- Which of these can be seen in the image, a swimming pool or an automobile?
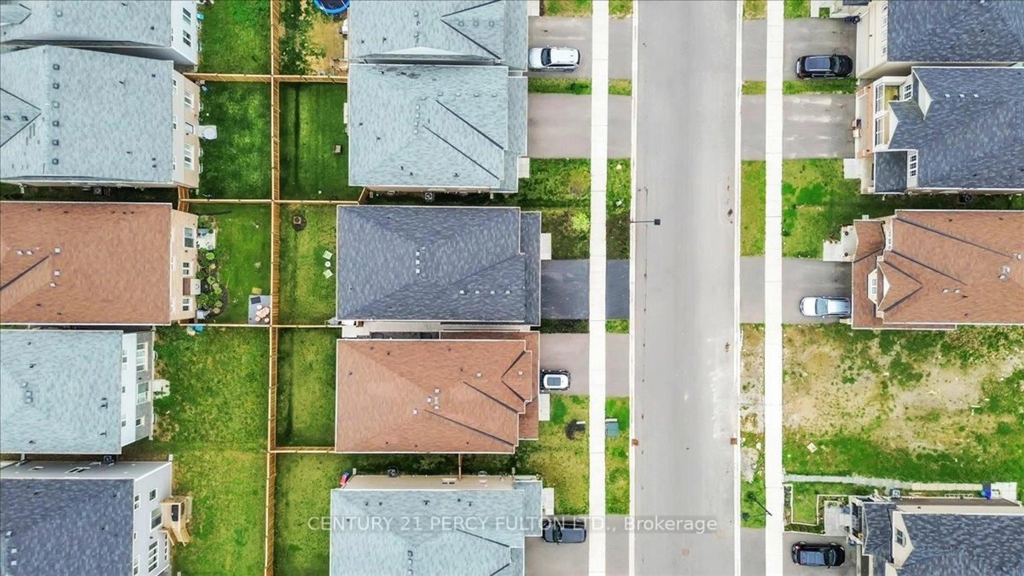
automobile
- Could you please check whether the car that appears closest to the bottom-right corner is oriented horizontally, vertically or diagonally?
horizontally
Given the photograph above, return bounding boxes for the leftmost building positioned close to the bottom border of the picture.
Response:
[0,463,184,576]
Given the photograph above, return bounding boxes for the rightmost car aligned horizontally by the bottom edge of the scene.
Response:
[791,542,846,569]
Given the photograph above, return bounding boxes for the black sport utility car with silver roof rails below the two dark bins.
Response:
[797,52,852,79]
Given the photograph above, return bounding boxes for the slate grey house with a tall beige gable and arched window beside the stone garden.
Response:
[848,494,1024,576]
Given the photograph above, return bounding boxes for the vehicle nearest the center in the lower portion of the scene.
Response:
[540,369,570,392]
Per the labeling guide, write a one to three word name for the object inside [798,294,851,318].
car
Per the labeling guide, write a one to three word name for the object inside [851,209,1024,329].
house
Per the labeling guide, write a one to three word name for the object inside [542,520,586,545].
car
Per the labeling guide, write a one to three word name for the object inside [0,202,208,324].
house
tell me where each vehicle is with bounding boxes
[791,542,846,569]
[540,369,570,392]
[542,520,586,545]
[798,294,851,318]
[529,45,581,72]
[797,52,852,79]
